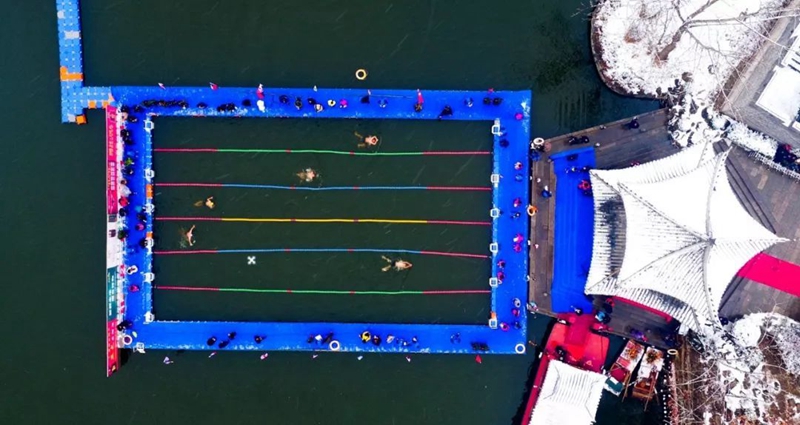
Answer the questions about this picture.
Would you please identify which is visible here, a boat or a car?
boat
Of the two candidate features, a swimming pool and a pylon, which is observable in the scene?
swimming pool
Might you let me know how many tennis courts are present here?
none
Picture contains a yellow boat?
No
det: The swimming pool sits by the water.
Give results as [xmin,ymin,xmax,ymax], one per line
[112,87,531,353]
